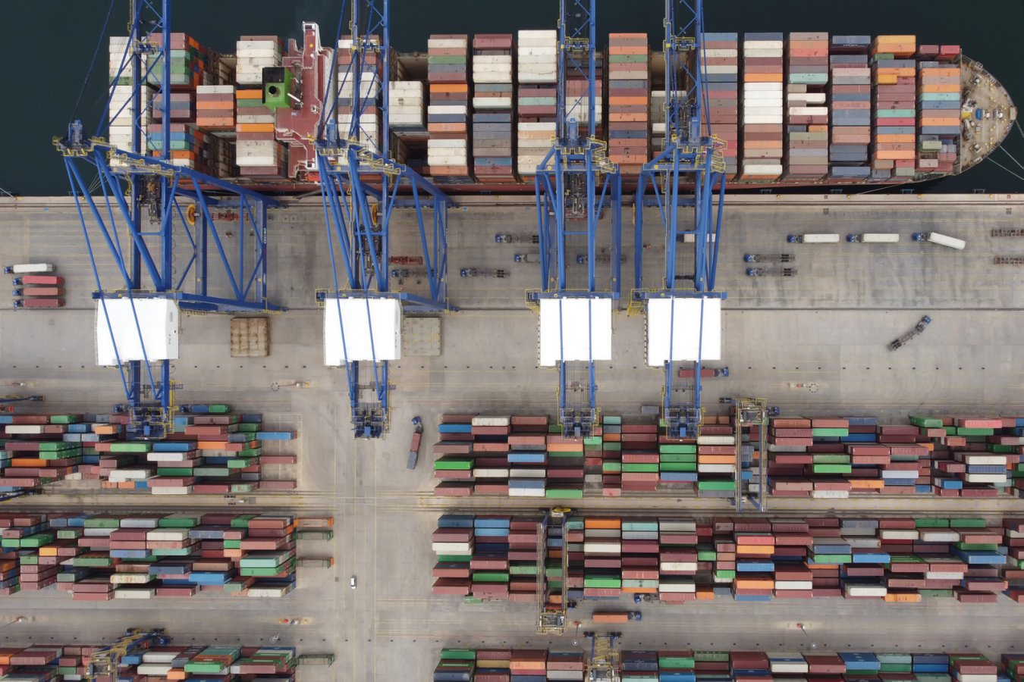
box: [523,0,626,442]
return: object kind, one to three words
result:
container crane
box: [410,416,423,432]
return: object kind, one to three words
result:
vehicle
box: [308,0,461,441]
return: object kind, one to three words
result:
container crane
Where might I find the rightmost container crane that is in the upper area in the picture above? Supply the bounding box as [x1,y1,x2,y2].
[625,0,729,442]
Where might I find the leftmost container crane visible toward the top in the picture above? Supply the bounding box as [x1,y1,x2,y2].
[57,0,286,441]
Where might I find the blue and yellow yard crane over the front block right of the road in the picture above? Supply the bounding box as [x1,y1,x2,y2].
[718,398,769,515]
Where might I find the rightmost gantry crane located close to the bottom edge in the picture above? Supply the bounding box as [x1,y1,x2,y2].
[584,631,626,682]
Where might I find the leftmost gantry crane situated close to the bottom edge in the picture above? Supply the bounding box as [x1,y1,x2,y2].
[83,628,166,682]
